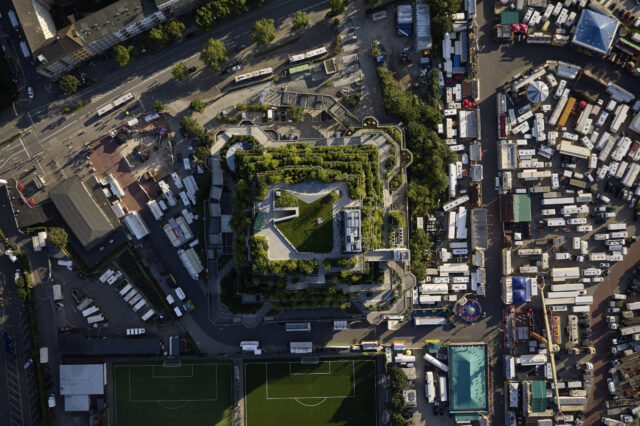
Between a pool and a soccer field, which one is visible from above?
soccer field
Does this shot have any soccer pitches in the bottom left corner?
Yes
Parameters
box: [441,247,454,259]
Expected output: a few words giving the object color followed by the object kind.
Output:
white vehicle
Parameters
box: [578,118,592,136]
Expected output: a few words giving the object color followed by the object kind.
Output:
white camper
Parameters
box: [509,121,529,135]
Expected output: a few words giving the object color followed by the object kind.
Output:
white vehicle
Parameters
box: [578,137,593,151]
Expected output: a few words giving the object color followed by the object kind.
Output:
white camper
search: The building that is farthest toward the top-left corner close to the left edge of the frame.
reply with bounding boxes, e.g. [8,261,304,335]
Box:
[12,0,59,51]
